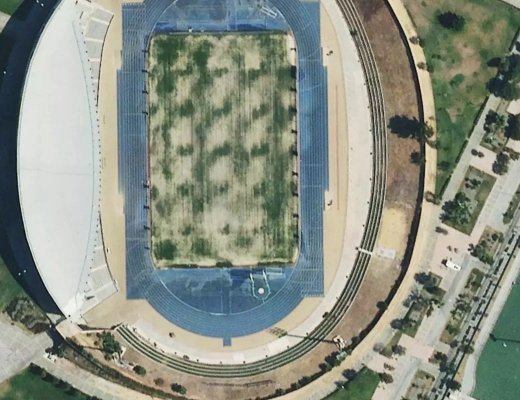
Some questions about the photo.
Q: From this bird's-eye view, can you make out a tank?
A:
No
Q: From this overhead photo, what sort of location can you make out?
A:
sports ground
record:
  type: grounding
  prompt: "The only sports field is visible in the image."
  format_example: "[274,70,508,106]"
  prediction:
[150,34,299,268]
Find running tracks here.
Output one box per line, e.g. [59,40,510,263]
[117,0,328,346]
